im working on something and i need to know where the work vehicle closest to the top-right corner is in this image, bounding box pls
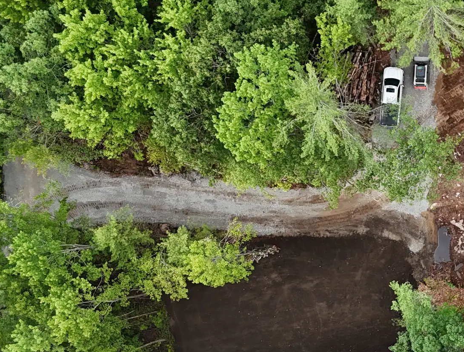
[412,58,431,90]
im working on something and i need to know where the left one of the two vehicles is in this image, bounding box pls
[379,66,404,130]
